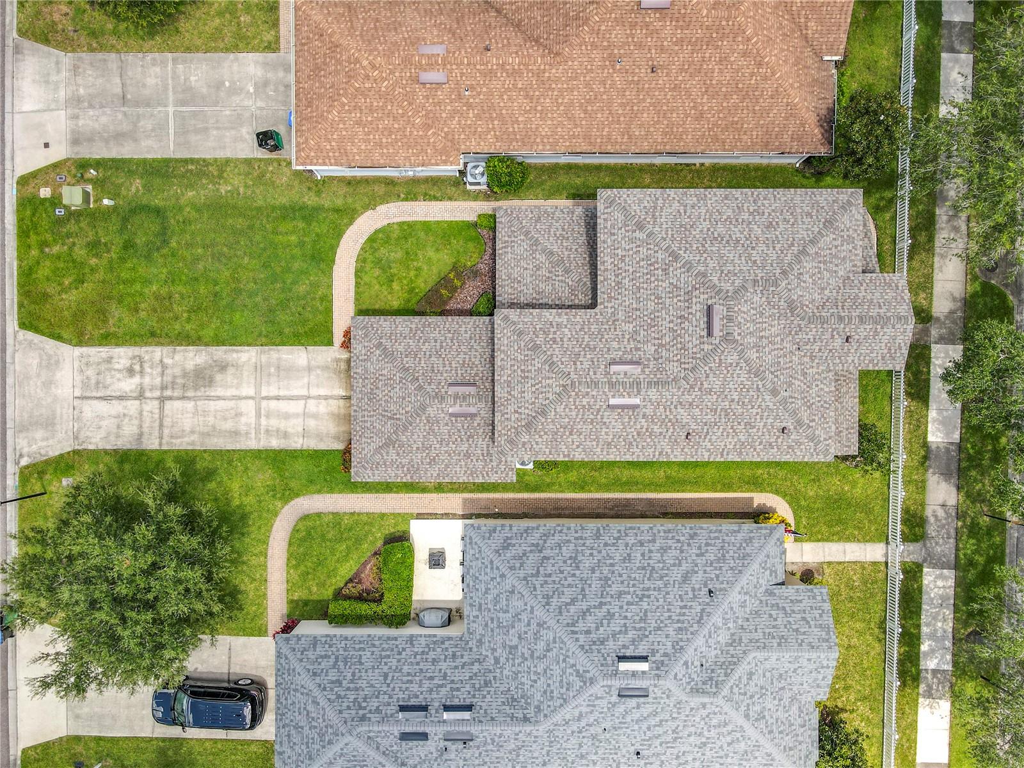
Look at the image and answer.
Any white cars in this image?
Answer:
No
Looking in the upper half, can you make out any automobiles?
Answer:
No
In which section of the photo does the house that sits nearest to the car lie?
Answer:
bottom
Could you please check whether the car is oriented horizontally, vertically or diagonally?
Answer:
horizontally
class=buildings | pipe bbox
[290,0,851,185]
[349,186,919,484]
[272,520,844,768]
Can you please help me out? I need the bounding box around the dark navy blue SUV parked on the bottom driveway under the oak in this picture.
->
[154,674,269,733]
